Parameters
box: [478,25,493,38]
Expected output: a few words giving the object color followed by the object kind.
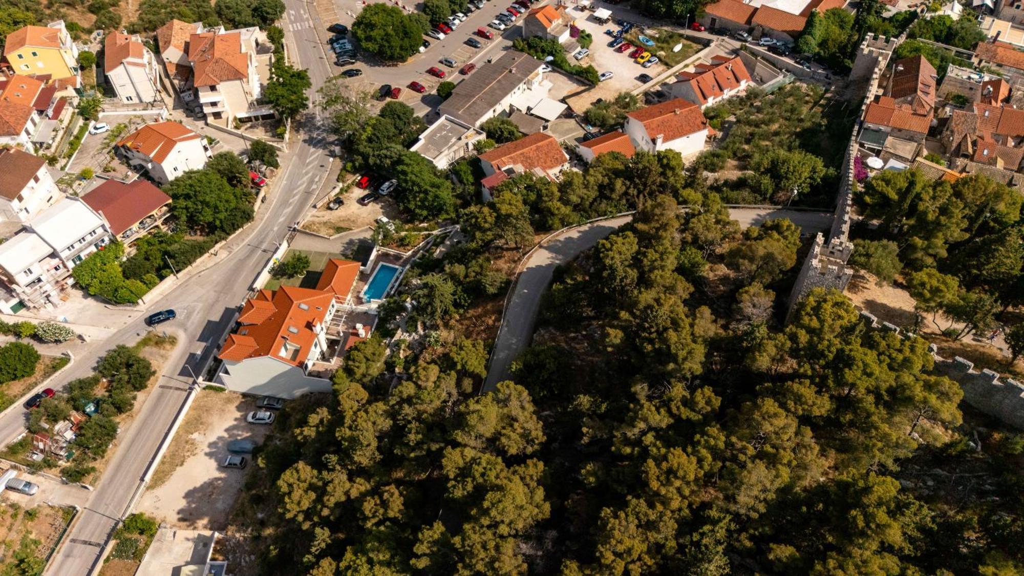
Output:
red vehicle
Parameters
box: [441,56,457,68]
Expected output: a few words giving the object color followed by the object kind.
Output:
gray vehicle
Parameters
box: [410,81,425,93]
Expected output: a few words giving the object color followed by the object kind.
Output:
red vehicle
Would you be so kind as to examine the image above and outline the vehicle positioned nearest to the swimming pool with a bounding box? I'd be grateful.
[376,214,395,233]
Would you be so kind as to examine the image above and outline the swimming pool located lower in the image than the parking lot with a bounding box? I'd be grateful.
[362,262,403,302]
